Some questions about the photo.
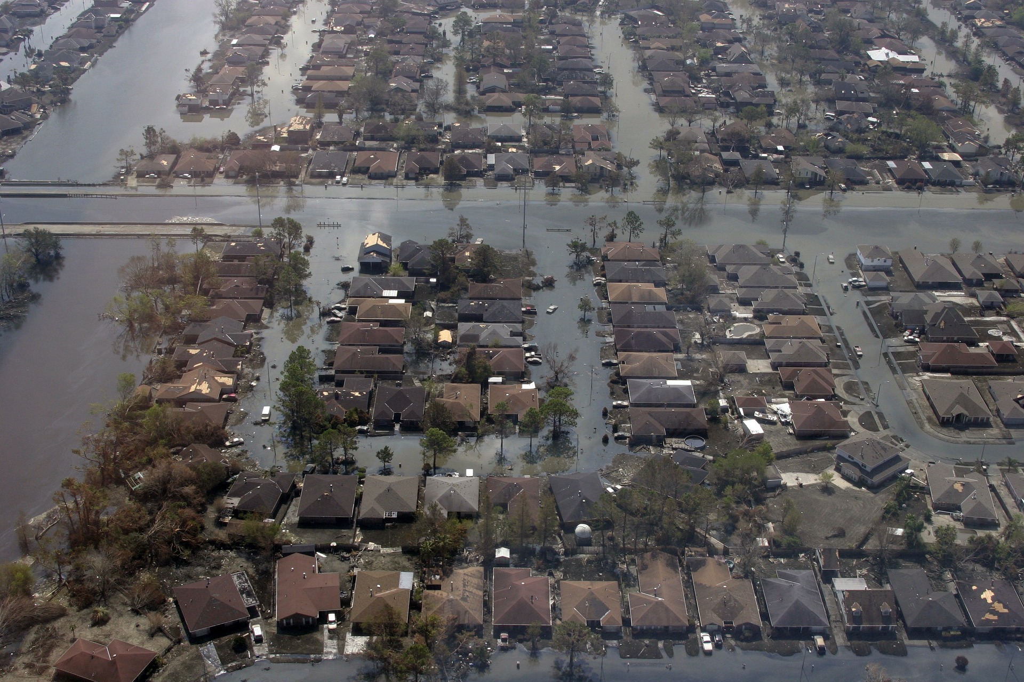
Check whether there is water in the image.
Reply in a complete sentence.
Yes, water can be seen from above here.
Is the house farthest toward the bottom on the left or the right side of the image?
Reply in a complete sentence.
The house farthest toward the bottom sits on the left side.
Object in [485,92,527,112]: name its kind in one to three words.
house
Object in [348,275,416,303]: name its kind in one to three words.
house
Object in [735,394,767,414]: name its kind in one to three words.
building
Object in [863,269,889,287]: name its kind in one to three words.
building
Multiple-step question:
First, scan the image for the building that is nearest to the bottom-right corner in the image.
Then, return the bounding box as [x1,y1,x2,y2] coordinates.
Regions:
[959,578,1024,634]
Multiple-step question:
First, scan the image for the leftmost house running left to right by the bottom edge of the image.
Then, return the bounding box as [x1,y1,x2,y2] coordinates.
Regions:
[53,638,160,682]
